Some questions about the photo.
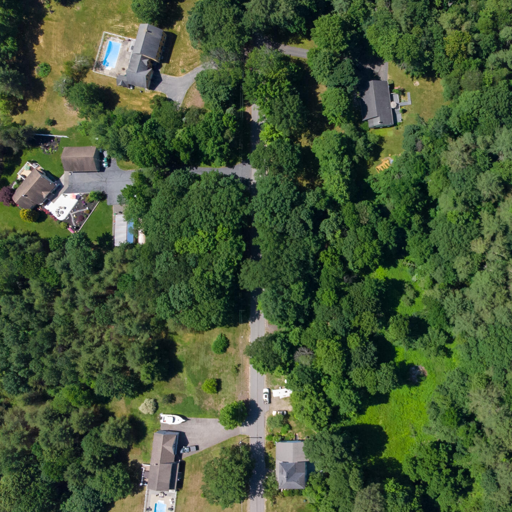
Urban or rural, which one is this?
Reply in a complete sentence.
The land in this view is best described as rural.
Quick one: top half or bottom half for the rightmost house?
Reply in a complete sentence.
It is in the top half that the rightmost house appears.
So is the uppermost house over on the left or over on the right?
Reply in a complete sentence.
The uppermost house is on the left side of the image.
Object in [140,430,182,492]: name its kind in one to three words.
house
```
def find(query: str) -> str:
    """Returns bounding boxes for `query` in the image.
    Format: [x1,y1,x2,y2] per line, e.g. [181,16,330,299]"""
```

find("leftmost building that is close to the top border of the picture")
[115,23,166,89]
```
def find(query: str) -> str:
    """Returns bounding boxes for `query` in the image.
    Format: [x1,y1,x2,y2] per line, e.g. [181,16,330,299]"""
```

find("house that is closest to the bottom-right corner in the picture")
[276,434,310,490]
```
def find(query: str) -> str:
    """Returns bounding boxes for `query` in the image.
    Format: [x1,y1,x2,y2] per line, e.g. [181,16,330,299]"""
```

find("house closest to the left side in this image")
[11,162,59,213]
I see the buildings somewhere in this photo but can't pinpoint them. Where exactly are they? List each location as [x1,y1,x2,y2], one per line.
[358,79,412,129]
[276,434,310,490]
[115,23,166,89]
[11,162,59,213]
[61,146,99,171]
[140,430,182,492]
